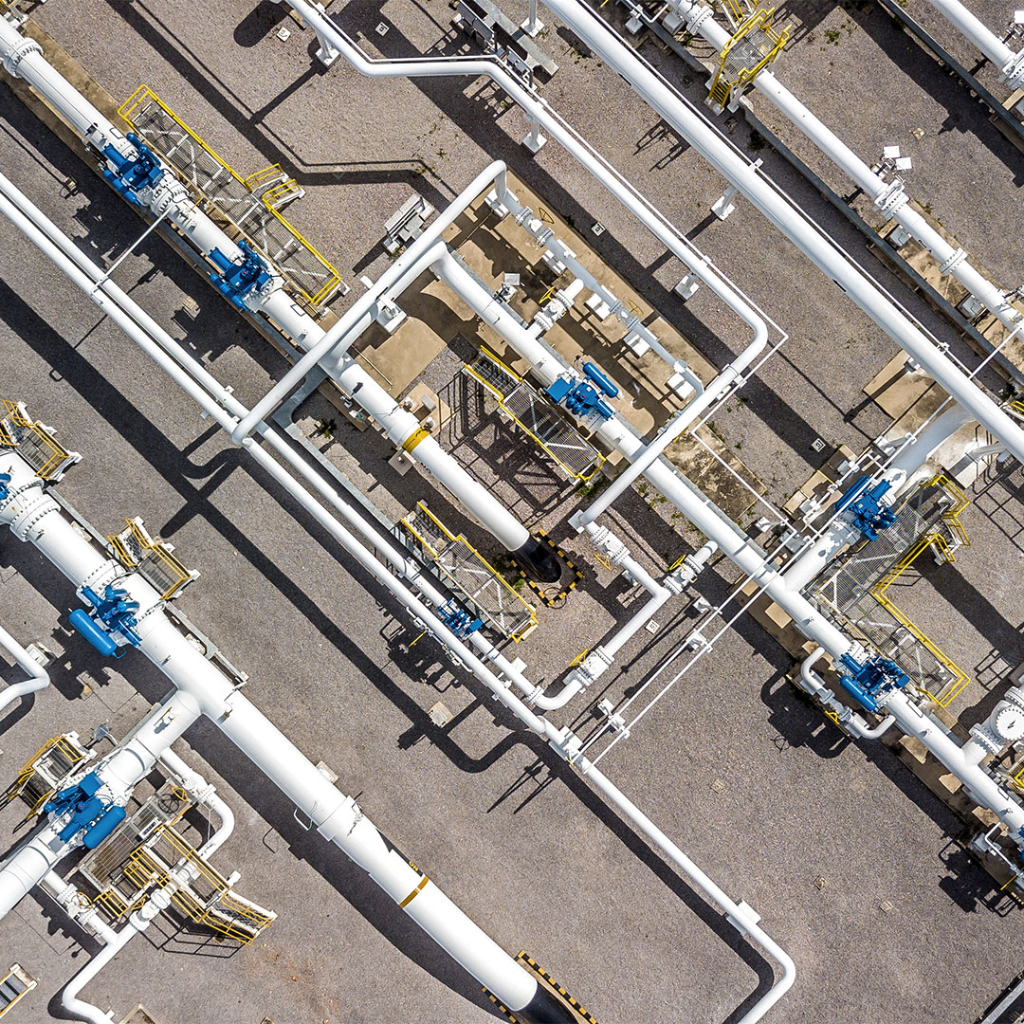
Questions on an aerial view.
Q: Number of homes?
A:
none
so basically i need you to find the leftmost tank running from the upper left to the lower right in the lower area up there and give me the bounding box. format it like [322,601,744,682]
[74,609,131,655]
